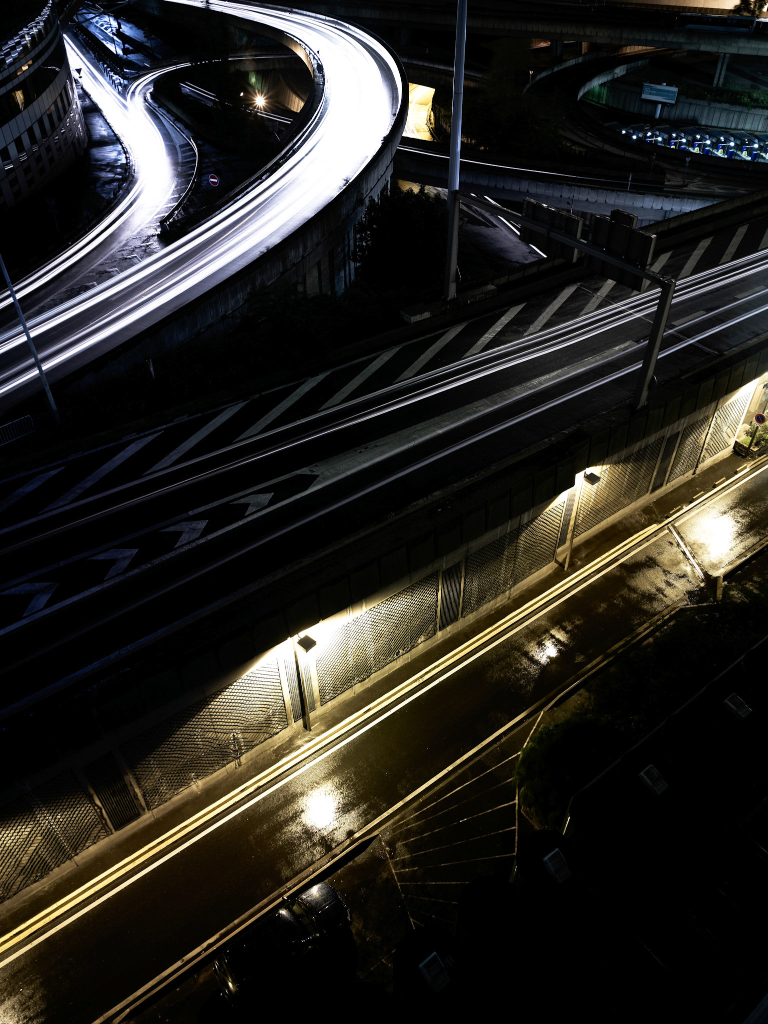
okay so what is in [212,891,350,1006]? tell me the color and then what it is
black car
